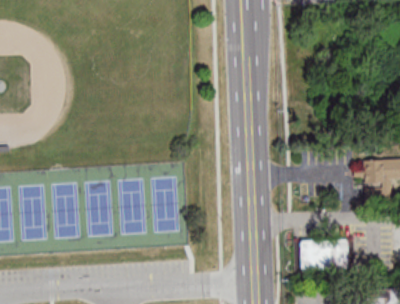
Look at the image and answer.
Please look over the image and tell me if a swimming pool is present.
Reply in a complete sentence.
No, no swimming pool is visible in the scene.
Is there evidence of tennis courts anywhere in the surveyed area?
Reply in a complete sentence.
Yes, I can see a tennis court in this picture.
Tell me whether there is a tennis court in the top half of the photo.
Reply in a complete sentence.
No, in the top half of the photo there is no tennis court.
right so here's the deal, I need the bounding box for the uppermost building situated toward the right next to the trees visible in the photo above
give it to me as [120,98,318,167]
[350,160,400,198]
